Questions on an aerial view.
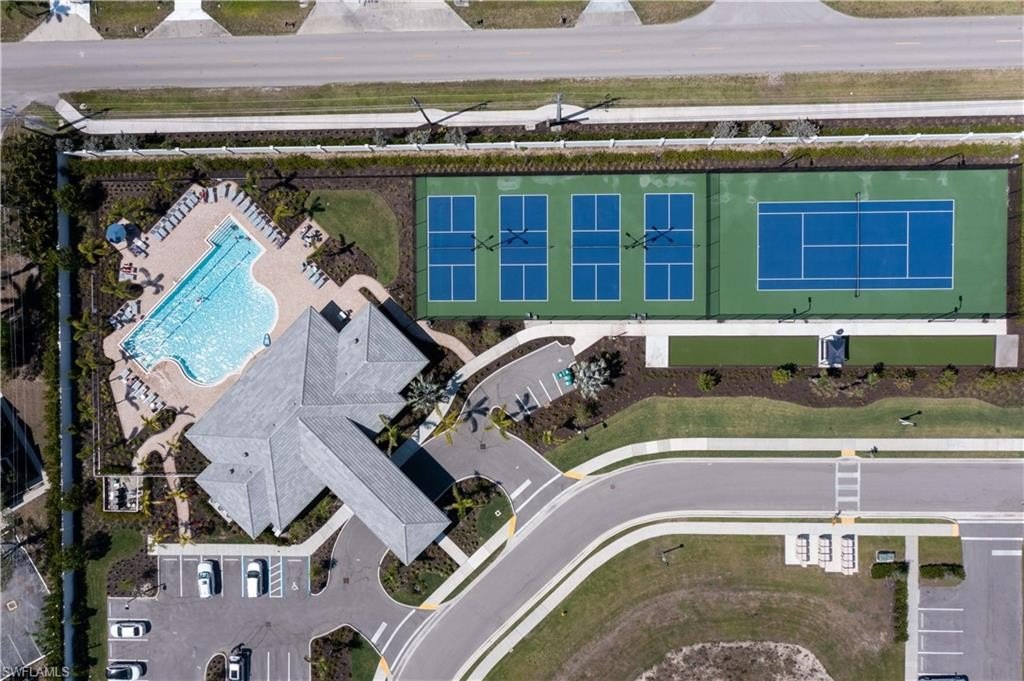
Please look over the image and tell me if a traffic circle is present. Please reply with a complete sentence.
No, I can see no traffic circle in this picture.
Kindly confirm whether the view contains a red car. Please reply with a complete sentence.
No, I can't see a single red car in this photo.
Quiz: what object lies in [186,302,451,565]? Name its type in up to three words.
building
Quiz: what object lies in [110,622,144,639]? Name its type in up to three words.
car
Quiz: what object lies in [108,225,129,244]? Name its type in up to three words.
umbrella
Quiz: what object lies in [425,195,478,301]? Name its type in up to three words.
sports court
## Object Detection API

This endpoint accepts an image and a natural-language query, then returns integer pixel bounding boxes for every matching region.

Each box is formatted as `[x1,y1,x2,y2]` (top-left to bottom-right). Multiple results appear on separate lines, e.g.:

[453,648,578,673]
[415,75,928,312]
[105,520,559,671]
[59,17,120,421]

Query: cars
[244,560,263,598]
[196,560,217,598]
[228,658,246,681]
[104,663,141,681]
[110,622,144,639]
